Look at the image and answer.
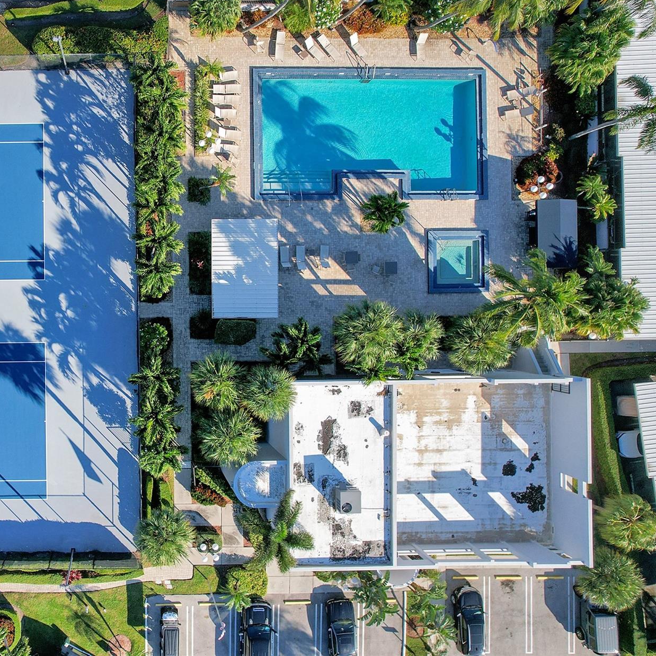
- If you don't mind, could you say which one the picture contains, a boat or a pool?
pool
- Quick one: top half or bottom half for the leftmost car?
bottom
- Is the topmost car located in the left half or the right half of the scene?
right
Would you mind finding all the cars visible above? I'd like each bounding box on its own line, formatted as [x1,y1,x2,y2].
[575,580,619,656]
[325,599,360,656]
[448,584,487,656]
[611,427,643,456]
[243,599,277,656]
[611,391,638,418]
[153,608,184,656]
